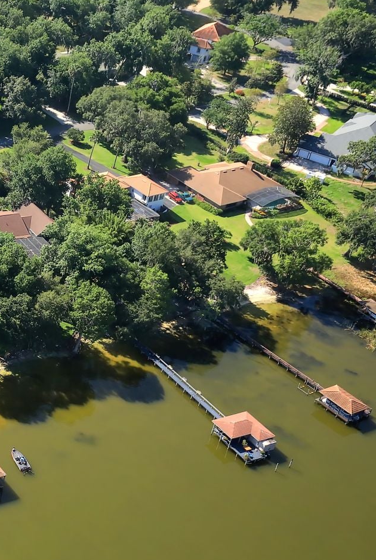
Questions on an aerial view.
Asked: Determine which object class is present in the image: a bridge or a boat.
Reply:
boat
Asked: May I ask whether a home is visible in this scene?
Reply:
Yes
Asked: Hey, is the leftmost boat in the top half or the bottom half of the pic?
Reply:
bottom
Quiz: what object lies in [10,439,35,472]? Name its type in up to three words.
boat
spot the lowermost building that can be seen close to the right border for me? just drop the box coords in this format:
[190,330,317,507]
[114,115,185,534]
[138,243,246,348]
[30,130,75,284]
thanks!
[307,385,373,433]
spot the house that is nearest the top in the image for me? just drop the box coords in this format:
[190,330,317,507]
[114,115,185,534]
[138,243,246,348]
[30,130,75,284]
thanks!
[190,23,238,64]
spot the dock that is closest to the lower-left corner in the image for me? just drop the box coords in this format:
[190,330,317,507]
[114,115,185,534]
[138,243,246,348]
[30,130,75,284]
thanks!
[138,342,229,419]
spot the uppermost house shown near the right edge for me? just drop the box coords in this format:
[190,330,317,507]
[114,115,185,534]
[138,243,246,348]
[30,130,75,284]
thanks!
[297,113,376,172]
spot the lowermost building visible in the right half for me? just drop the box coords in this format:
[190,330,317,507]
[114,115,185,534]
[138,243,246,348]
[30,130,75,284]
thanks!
[210,410,278,465]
